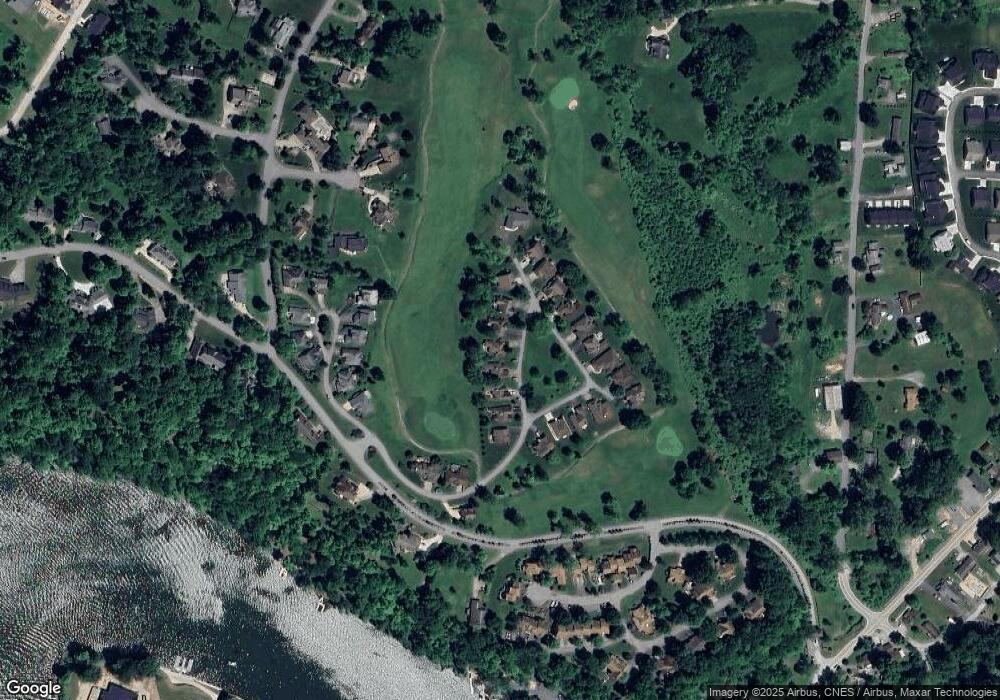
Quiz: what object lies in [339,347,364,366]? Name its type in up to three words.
house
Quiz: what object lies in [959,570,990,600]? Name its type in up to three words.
building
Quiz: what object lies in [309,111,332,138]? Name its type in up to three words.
house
